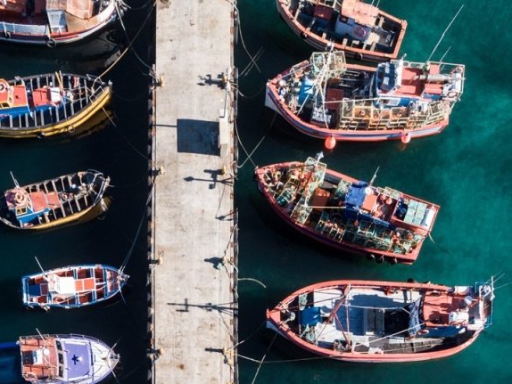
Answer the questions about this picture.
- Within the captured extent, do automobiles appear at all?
No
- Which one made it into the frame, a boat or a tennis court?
boat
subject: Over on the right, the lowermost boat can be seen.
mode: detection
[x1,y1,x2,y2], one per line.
[266,271,511,364]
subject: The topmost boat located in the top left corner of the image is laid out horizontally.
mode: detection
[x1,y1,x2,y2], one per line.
[0,0,120,50]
